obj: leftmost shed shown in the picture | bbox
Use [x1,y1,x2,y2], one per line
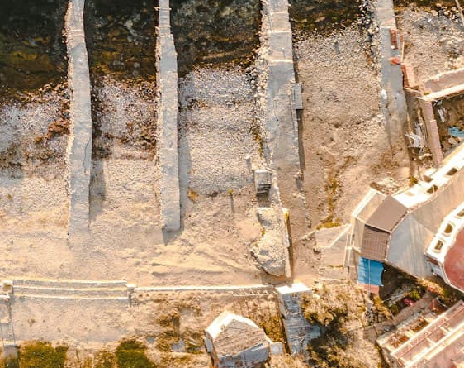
[200,305,283,368]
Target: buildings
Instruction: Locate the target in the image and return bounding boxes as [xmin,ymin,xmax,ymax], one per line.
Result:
[340,121,464,314]
[200,305,283,368]
[369,289,464,368]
